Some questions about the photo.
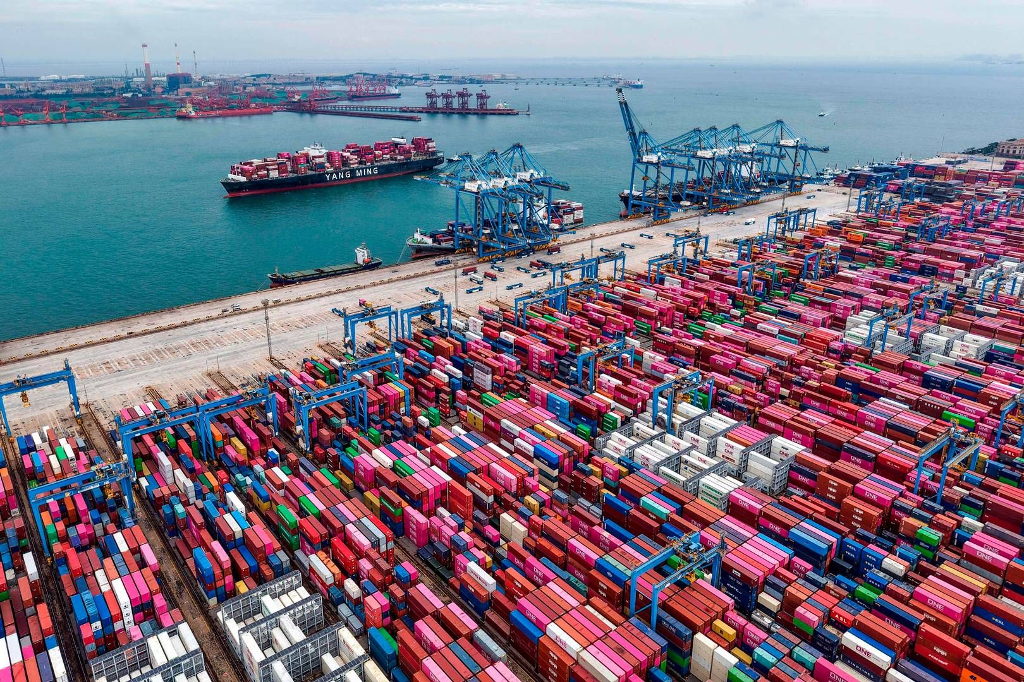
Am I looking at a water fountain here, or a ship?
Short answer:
ship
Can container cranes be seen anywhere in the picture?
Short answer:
Yes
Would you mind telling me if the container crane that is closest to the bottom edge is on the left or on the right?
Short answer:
right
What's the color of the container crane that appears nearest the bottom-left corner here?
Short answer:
blue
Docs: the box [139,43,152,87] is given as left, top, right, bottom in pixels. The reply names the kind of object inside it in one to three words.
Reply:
chimney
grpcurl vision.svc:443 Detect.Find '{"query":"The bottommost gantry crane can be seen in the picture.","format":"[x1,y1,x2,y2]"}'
[635,514,738,666]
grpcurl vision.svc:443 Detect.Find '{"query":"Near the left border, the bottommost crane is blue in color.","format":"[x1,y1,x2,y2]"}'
[20,452,144,575]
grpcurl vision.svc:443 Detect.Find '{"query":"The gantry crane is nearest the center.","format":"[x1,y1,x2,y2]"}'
[513,285,564,330]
